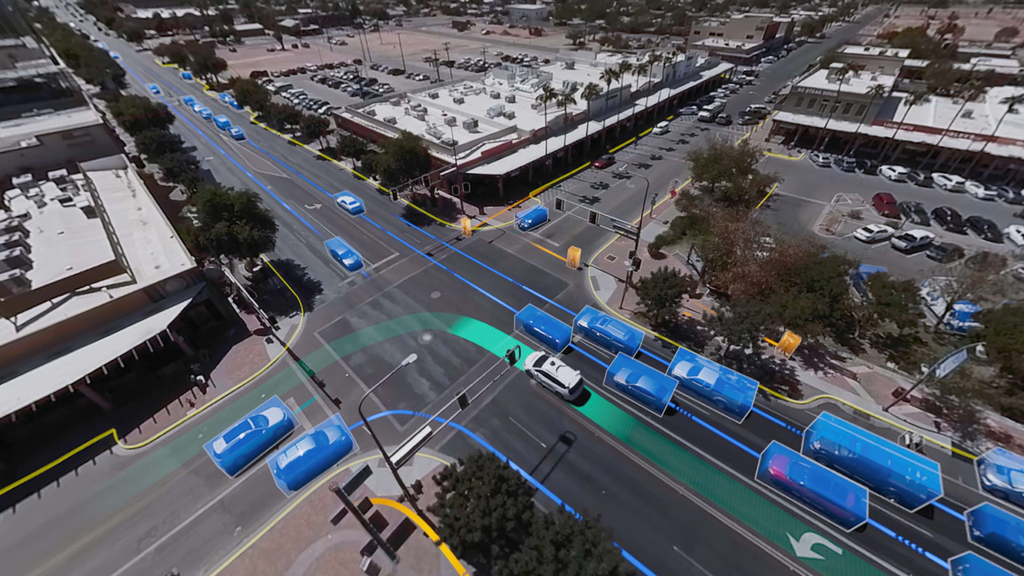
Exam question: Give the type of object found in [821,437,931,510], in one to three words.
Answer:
vehicle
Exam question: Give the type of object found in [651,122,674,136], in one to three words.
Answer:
car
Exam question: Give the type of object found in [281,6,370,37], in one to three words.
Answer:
building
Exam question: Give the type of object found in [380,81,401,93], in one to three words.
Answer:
vehicle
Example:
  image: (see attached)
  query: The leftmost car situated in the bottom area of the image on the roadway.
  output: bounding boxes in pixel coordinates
[215,408,295,470]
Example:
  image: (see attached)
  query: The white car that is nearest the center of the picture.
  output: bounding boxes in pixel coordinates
[525,349,588,398]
